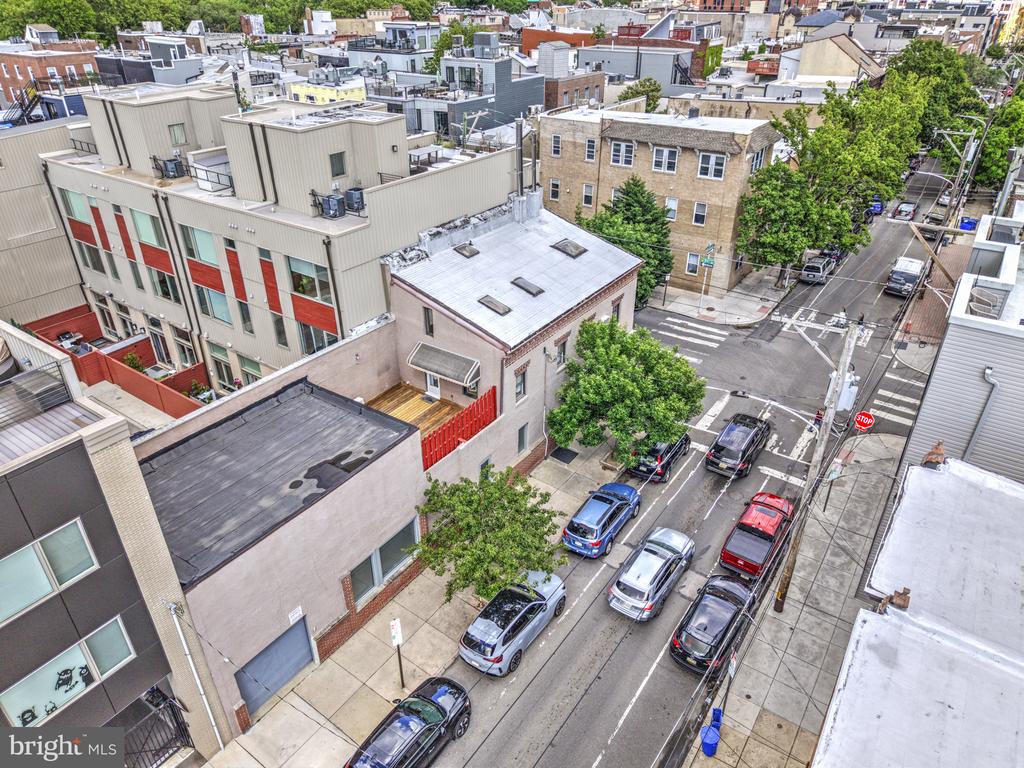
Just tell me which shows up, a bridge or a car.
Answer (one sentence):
Of the two, only a car appears.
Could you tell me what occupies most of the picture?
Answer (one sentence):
For the most part, this view shows buildings.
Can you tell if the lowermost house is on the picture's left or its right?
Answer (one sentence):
The lowermost house is on the right side of the image.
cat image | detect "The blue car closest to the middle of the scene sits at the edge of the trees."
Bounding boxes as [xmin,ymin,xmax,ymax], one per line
[560,480,642,558]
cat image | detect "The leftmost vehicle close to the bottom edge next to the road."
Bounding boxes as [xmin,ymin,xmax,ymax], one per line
[335,678,468,768]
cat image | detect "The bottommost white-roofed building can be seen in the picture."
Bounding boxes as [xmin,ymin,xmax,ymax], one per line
[800,604,1024,768]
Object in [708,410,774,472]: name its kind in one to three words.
car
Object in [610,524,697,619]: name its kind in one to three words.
car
